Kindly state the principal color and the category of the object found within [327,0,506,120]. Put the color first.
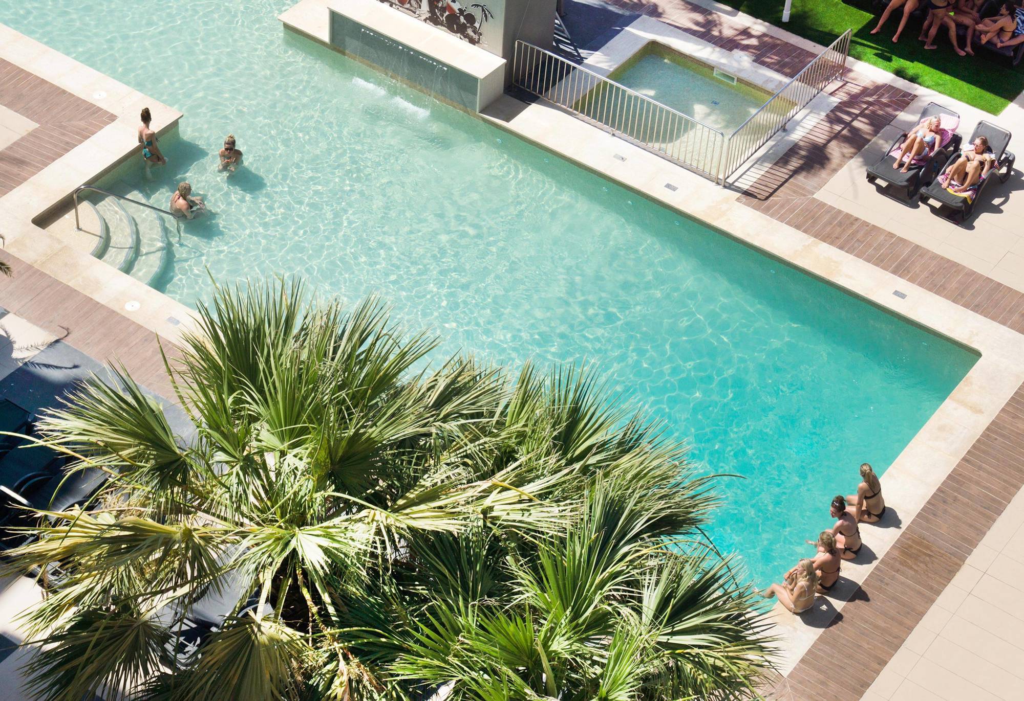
white fountain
